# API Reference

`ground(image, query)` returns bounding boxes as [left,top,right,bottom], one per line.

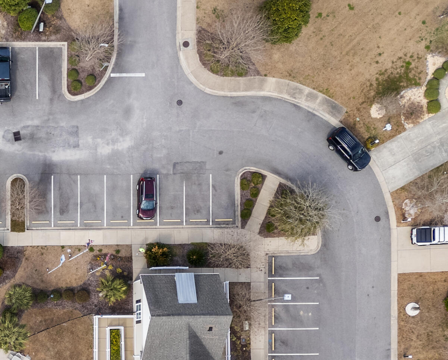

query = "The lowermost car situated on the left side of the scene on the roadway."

[136,177,159,222]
